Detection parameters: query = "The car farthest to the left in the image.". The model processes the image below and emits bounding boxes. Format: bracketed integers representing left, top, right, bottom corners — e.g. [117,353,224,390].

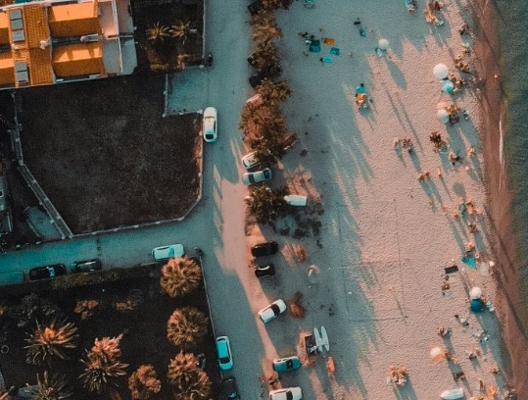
[0,270,24,286]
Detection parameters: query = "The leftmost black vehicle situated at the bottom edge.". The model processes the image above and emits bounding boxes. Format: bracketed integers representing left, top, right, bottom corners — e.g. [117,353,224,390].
[223,378,240,400]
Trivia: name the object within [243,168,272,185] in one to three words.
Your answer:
car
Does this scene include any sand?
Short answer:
Yes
